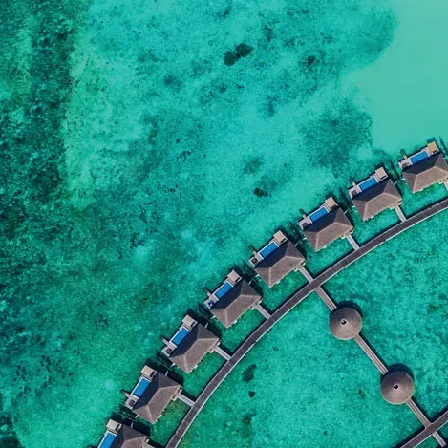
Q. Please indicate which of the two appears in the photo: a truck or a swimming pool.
swimming pool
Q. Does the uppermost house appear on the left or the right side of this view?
right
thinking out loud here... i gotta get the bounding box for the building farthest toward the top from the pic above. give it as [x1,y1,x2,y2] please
[399,143,448,193]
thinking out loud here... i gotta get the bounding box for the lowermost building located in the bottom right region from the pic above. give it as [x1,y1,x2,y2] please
[382,370,414,403]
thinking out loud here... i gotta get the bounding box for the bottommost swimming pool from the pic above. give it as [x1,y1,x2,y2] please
[100,430,120,448]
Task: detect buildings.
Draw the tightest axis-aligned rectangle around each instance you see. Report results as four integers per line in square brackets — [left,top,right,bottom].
[329,307,362,339]
[164,316,223,374]
[347,169,405,221]
[299,198,357,252]
[124,365,185,424]
[205,271,265,328]
[399,143,448,193]
[382,370,414,403]
[250,232,309,288]
[108,418,150,448]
